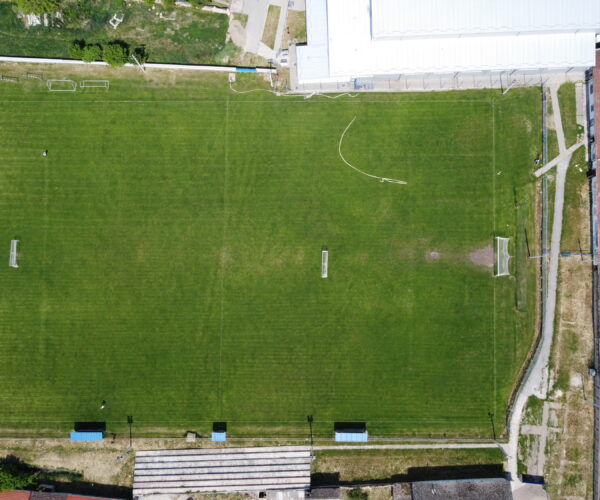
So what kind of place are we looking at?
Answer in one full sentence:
The picture captures a sports ground.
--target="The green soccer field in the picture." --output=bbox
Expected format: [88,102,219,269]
[0,91,530,432]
